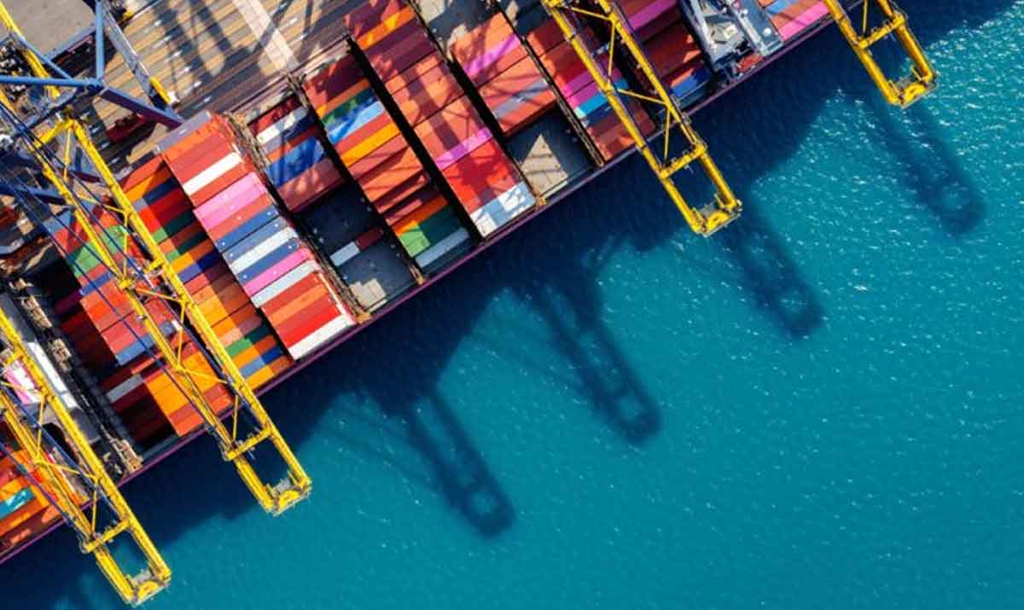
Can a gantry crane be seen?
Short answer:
Yes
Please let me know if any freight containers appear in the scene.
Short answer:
Yes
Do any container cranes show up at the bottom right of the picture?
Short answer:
No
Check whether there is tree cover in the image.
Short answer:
No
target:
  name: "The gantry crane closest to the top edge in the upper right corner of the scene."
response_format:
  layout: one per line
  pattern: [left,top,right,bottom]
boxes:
[805,0,935,114]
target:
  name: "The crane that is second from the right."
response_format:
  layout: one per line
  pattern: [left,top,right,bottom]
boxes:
[543,0,744,236]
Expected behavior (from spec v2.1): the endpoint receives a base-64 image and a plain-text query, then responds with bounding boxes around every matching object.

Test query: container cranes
[0,0,312,519]
[805,0,935,114]
[0,111,179,608]
[543,0,744,236]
